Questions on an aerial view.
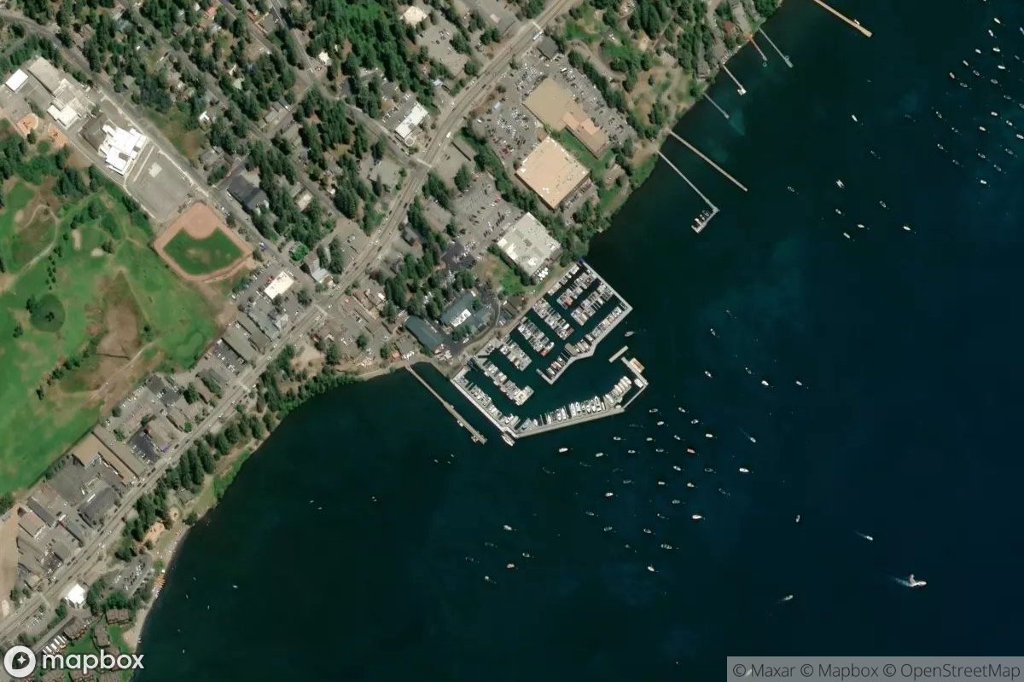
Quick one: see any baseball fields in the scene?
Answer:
Yes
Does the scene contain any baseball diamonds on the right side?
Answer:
No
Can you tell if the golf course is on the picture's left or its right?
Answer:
left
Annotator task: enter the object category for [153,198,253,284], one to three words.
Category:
baseball field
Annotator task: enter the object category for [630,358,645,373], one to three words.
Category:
ship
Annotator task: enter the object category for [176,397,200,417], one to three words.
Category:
building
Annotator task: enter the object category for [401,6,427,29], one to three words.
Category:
house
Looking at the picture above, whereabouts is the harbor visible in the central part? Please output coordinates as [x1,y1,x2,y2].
[450,260,648,440]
